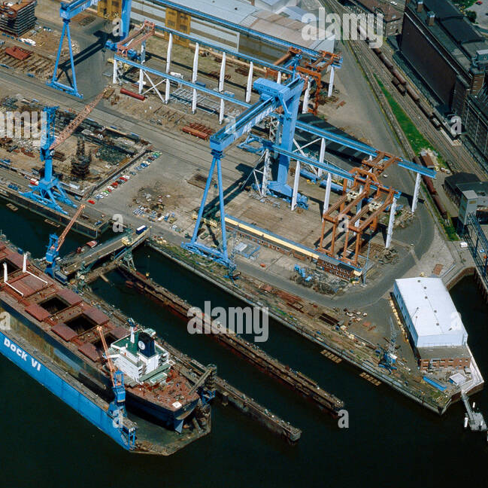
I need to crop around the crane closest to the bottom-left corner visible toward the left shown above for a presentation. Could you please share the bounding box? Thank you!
[98,327,135,421]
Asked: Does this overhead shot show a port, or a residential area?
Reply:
port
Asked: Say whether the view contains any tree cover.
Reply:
No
